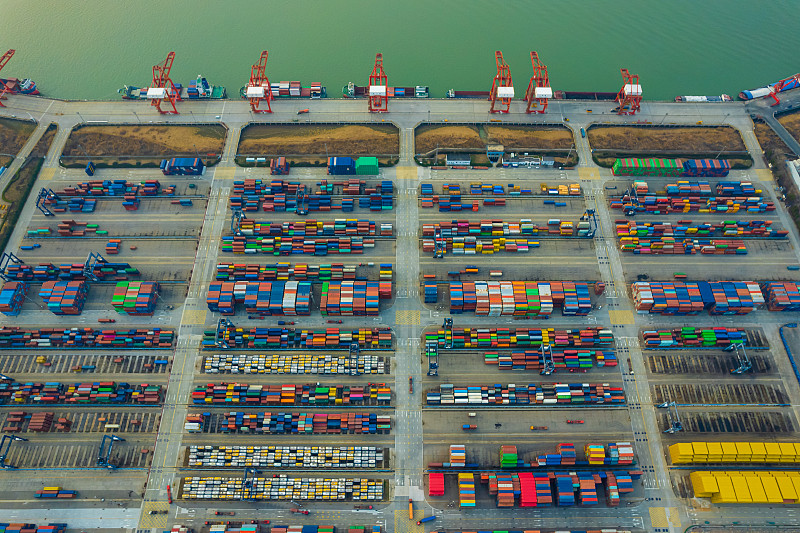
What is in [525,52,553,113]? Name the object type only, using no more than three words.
container crane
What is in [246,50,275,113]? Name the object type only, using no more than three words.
container crane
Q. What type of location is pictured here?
port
